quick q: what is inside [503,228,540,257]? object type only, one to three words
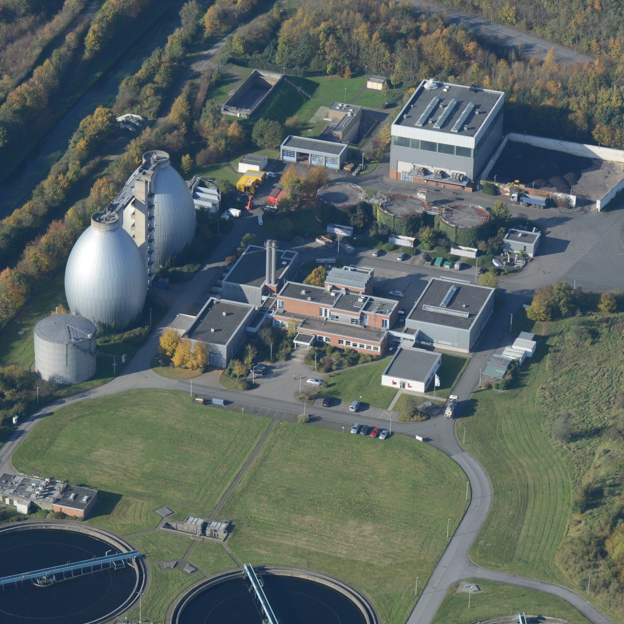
building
